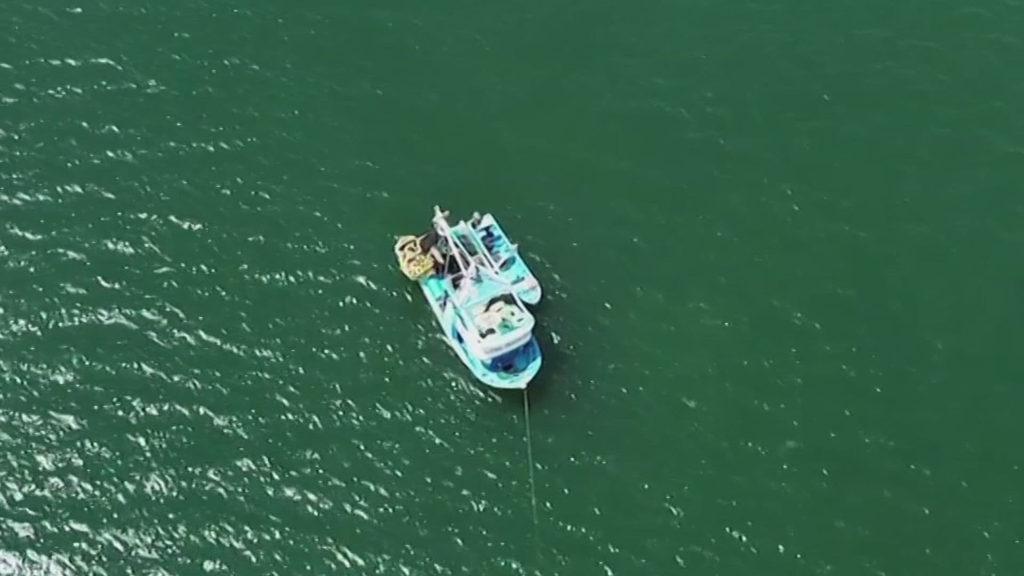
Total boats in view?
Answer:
2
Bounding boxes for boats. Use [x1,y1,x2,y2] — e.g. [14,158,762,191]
[401,201,542,389]
[467,207,537,301]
